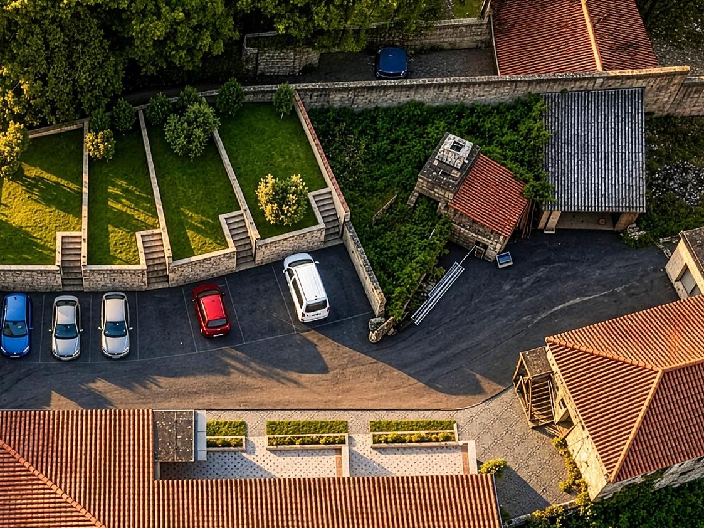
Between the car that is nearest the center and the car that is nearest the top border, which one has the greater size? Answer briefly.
the car that is nearest the center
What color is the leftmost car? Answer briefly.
blue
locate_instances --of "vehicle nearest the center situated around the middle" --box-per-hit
[282,254,326,326]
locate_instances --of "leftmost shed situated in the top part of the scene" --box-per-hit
[413,133,530,265]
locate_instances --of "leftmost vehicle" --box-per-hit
[0,294,33,359]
